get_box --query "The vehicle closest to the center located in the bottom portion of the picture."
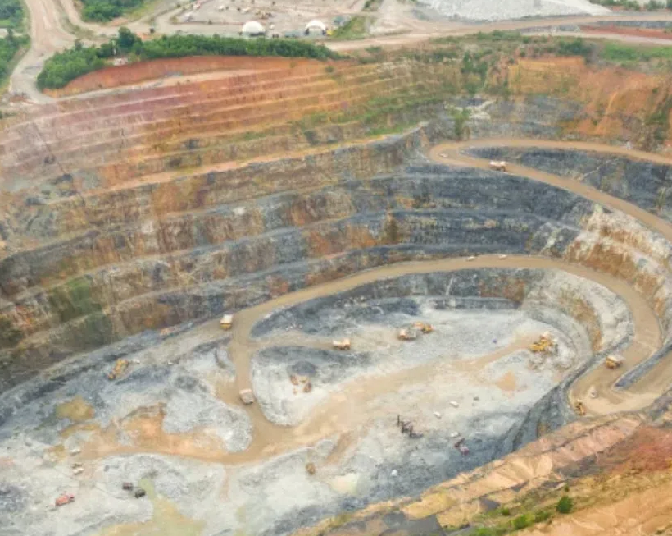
[333,336,350,349]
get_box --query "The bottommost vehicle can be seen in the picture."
[52,493,73,506]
